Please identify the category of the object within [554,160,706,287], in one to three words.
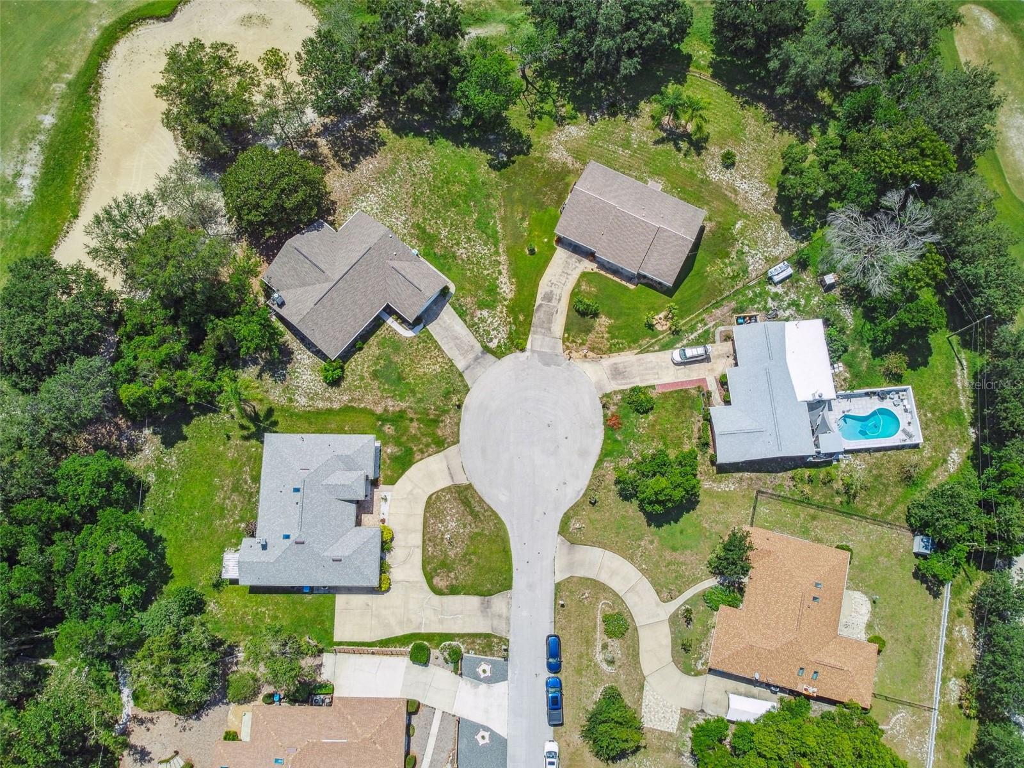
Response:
house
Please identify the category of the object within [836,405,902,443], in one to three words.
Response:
swimming pool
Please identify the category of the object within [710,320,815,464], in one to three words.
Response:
house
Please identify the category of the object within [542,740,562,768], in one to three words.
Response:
car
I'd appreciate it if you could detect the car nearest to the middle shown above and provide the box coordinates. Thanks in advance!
[670,342,717,364]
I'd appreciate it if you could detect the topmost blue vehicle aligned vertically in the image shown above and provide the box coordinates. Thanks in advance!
[545,634,564,673]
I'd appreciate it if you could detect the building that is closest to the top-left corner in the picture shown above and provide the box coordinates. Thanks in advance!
[261,211,451,361]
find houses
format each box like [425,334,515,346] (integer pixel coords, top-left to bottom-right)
[708,528,878,709]
[238,434,381,587]
[213,696,407,768]
[261,211,451,361]
[710,320,815,464]
[554,160,706,287]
